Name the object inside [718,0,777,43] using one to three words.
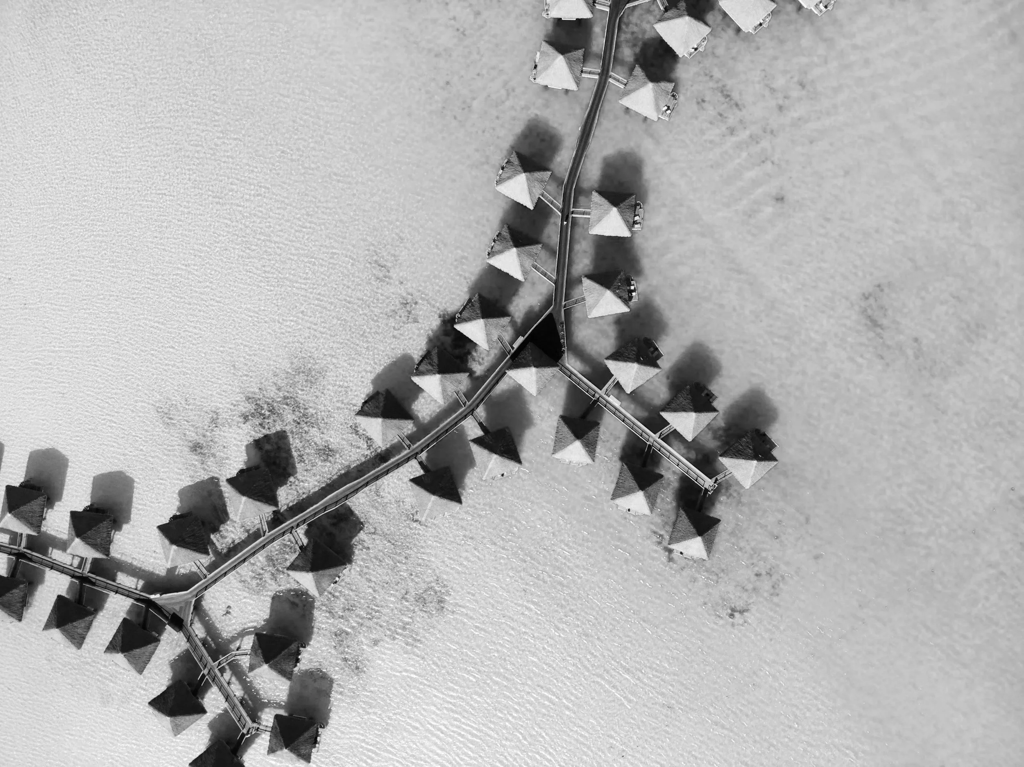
house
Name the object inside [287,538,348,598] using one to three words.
house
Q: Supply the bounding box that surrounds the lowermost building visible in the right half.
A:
[668,507,721,560]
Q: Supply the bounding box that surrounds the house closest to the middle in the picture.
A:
[503,340,562,399]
